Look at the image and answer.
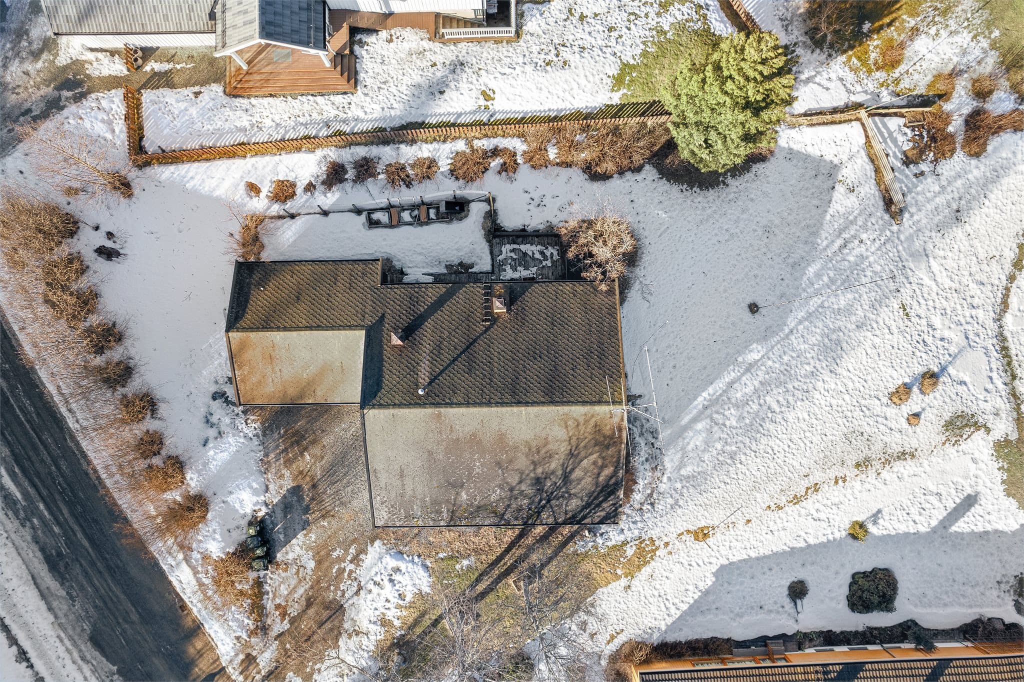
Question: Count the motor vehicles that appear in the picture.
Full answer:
There are no motor vehicles in this view.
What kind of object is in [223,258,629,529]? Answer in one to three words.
house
